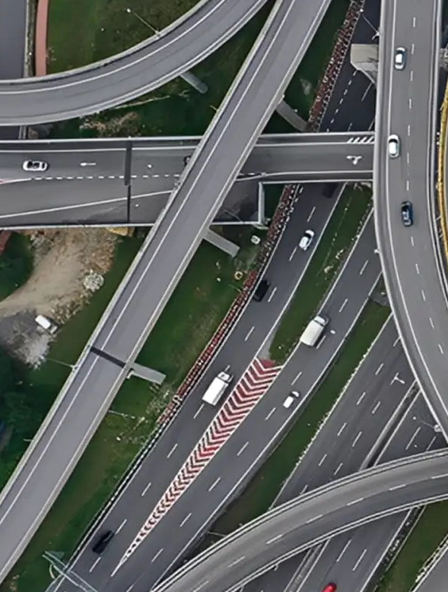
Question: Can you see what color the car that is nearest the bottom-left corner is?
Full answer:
In this view, the car that is nearest the bottom-left corner is black.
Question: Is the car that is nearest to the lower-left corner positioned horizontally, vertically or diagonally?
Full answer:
The car that is nearest to the lower-left corner is laid out diagonally.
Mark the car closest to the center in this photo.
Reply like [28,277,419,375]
[252,275,271,301]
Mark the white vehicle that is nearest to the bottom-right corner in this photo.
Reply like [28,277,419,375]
[282,389,299,410]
